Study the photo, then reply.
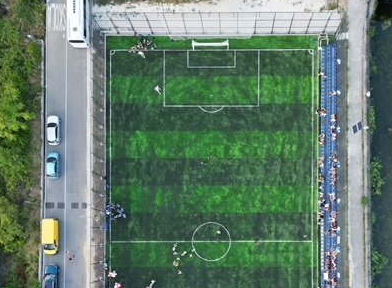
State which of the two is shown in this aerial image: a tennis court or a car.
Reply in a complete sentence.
This aerial view contains a car.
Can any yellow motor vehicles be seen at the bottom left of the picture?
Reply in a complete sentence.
Yes, a yellow motor vehicle appears at the bottom left of the picture.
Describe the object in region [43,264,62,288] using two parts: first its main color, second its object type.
blue car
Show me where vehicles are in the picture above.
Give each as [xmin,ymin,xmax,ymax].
[46,152,62,179]
[44,116,62,146]
[66,0,91,49]
[43,264,62,288]
[42,219,60,254]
